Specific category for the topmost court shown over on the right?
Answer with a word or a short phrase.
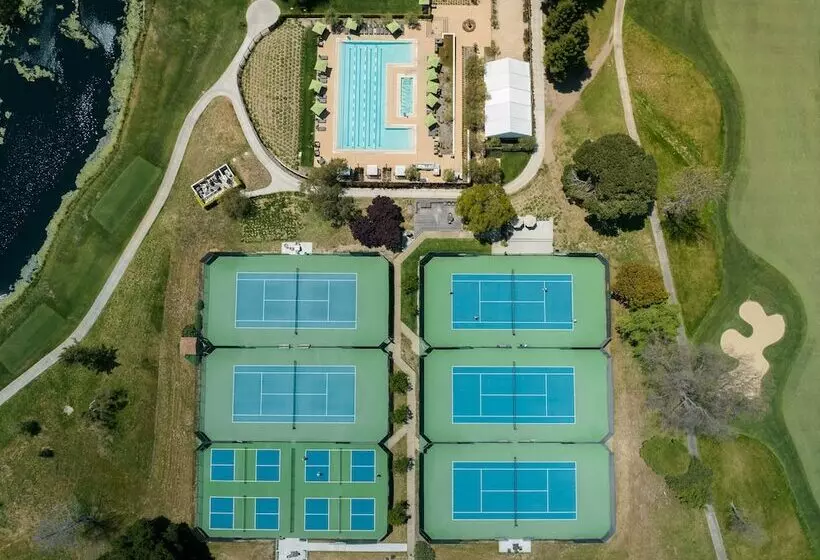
tennis court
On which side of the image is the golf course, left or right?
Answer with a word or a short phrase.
right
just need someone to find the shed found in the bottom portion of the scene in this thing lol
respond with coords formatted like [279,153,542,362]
[180,338,200,355]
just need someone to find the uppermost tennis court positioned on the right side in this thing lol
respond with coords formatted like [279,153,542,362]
[420,255,607,348]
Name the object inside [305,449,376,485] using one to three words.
sports court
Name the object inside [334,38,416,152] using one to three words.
swimming pool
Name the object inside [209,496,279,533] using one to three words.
sports court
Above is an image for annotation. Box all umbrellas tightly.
[312,22,327,35]
[425,66,439,79]
[428,55,440,67]
[386,19,400,34]
[316,60,328,71]
[312,102,325,116]
[344,18,358,31]
[309,79,322,92]
[524,215,537,229]
[510,216,524,229]
[426,79,440,92]
[424,92,439,107]
[424,113,438,127]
